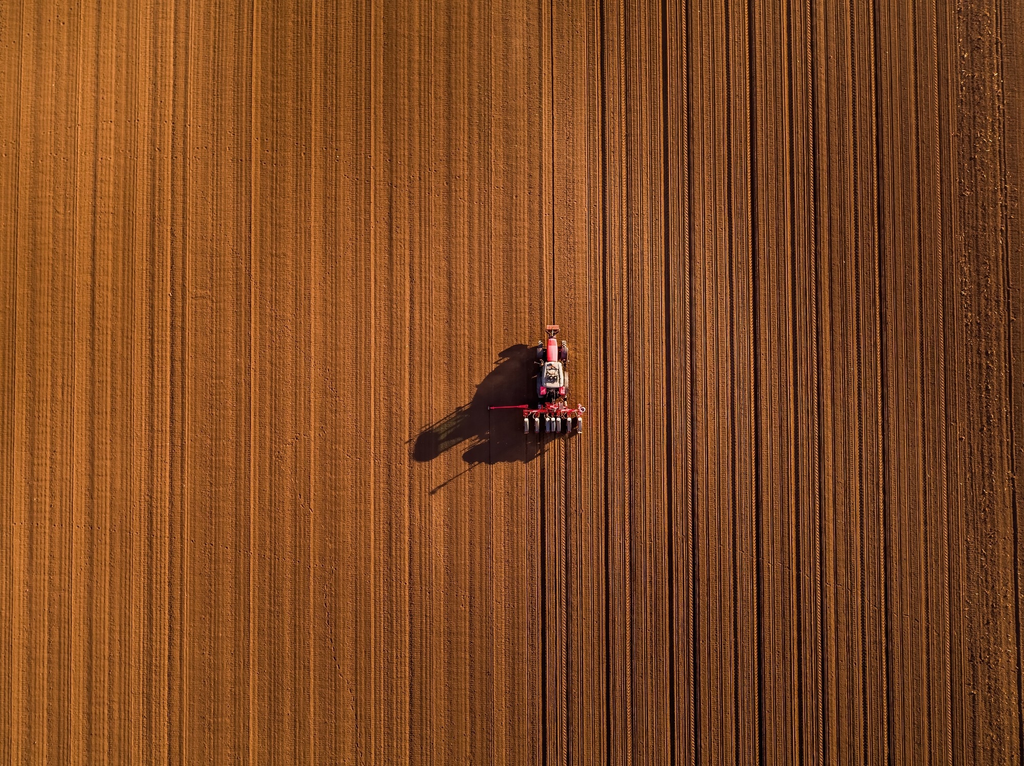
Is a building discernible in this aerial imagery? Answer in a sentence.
No, there's no building here.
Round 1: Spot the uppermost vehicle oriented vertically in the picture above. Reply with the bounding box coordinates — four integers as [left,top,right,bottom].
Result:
[536,325,568,404]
